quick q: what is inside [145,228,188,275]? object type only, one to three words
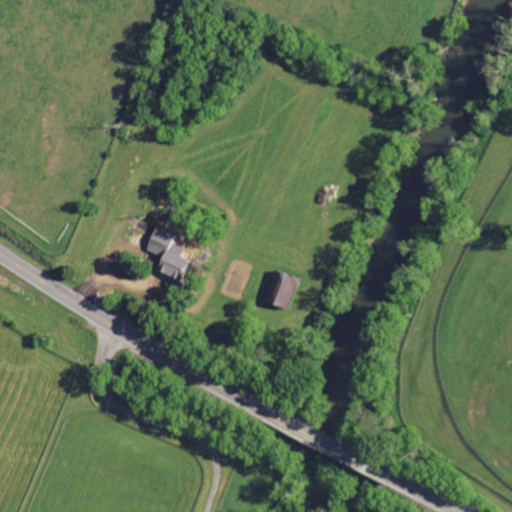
house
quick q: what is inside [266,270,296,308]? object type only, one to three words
barn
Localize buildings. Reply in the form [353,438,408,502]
[145,228,188,275]
[266,270,296,308]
